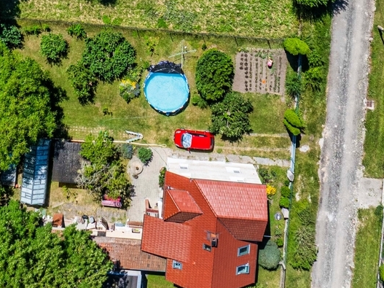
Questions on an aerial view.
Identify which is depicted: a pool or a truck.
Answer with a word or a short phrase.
pool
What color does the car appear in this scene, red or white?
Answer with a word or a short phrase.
red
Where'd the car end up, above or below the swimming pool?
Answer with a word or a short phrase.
below it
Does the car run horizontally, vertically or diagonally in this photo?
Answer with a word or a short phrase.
horizontally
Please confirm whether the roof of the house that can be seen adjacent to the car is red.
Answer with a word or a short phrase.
Yes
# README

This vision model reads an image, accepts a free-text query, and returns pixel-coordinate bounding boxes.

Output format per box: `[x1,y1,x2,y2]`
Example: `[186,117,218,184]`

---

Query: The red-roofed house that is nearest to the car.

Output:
[140,153,268,288]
